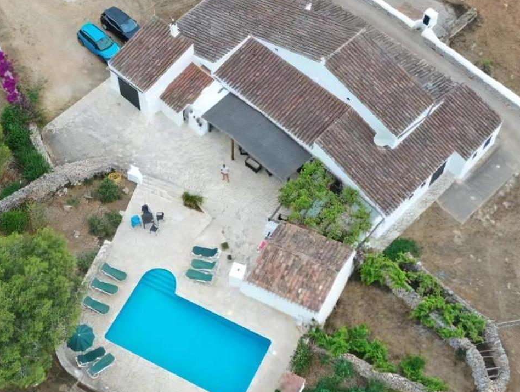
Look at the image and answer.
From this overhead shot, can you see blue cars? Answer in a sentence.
Yes, I can see a blue car in this picture.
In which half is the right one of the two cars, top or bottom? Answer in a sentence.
The top half of the photo is where the right one of the two cars is.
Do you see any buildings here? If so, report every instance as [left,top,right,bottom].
[246,222,355,323]
[108,0,502,241]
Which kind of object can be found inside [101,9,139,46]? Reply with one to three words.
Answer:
car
